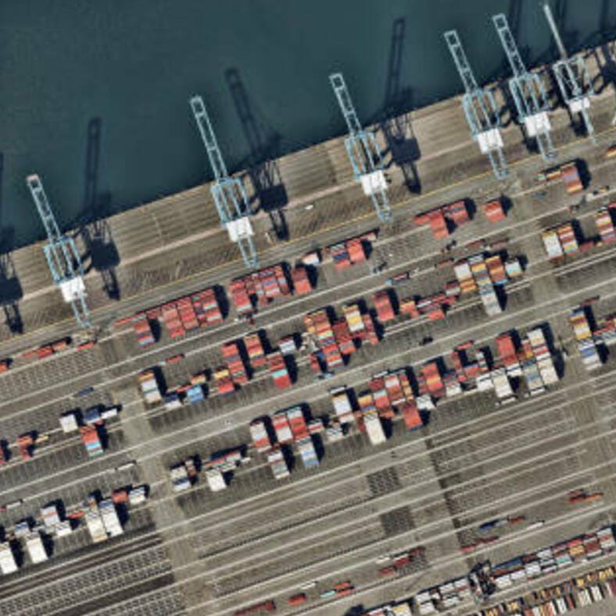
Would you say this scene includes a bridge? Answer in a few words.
No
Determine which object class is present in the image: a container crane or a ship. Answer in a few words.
container crane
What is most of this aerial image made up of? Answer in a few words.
buildings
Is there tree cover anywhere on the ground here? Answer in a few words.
No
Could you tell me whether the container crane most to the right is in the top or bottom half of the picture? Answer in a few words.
top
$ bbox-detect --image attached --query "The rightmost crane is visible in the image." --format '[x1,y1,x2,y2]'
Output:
[542,4,597,148]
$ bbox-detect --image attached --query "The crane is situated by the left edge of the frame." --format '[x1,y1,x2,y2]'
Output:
[27,176,90,327]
